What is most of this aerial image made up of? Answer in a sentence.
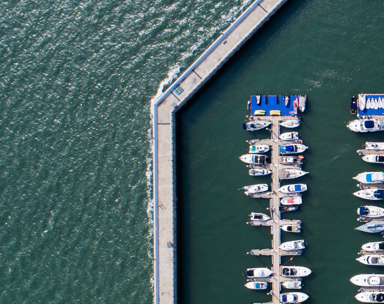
Most of the picture is covered by water.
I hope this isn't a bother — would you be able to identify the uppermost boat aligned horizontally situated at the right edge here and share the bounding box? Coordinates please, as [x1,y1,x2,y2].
[347,119,384,131]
